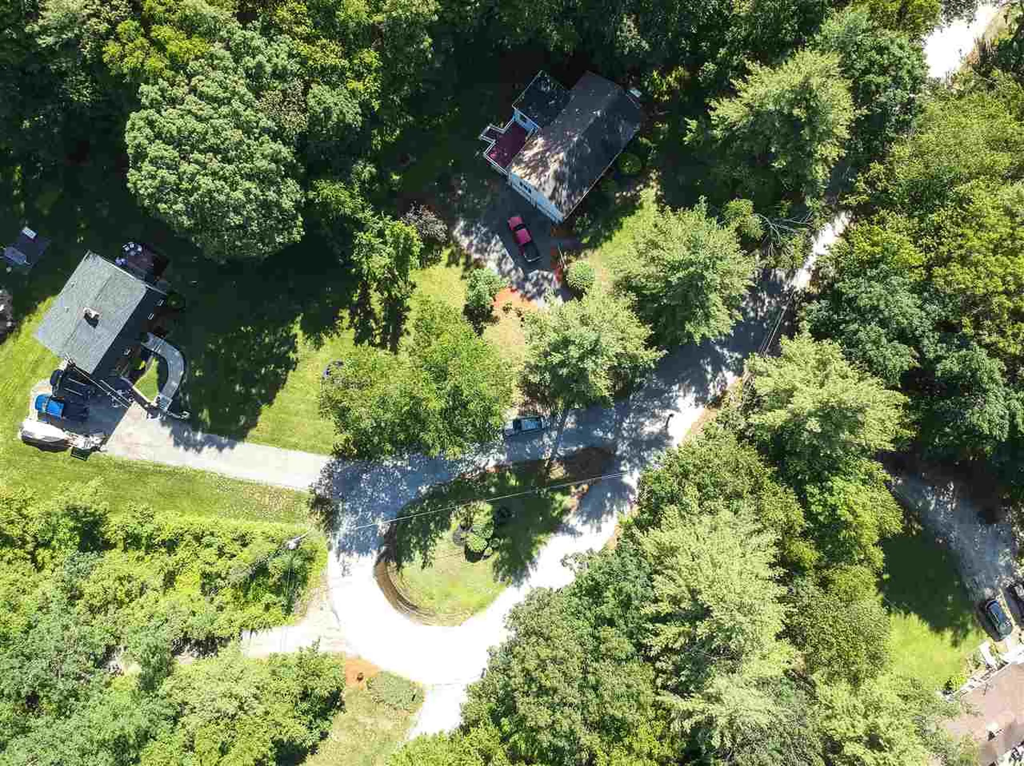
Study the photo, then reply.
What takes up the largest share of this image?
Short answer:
trees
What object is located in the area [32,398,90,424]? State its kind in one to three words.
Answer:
truck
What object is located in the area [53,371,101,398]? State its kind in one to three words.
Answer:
car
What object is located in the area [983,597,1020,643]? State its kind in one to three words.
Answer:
car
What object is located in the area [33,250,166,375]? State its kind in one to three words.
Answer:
house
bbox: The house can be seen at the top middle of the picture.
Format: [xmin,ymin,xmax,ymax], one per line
[481,69,643,223]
